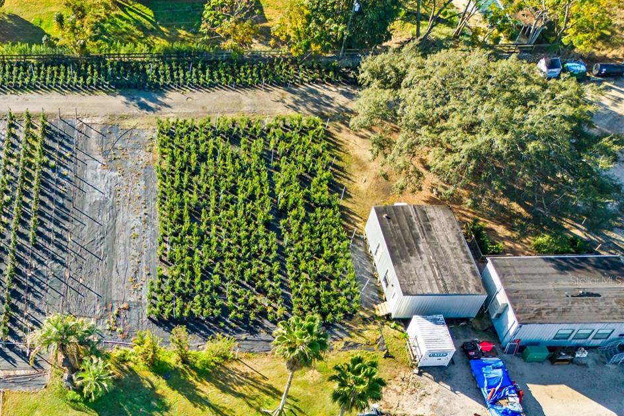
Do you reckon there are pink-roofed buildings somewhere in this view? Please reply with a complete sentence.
No, no pink-roofed building is visible in the scene.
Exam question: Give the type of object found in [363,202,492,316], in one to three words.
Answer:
building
